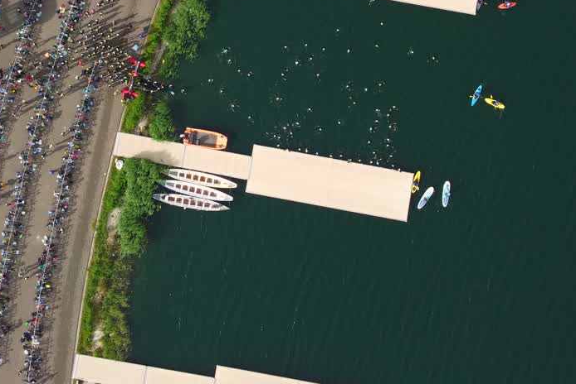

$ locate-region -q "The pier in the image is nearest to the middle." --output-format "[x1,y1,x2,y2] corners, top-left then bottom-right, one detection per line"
[111,131,414,221]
